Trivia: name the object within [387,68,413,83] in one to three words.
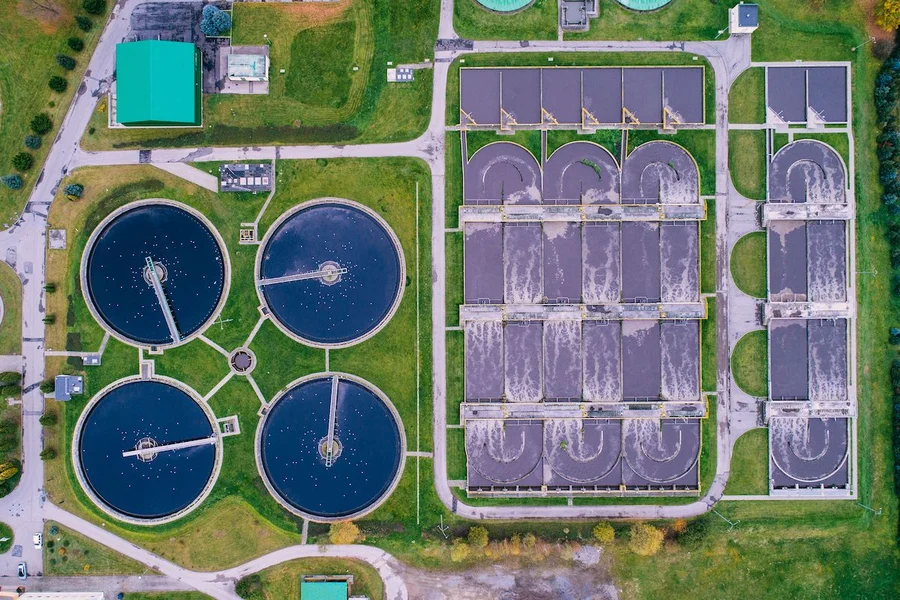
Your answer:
building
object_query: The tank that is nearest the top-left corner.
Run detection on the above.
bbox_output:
[81,199,232,349]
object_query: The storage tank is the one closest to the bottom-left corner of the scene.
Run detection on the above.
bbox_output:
[72,375,223,524]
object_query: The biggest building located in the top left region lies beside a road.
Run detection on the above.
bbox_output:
[116,40,200,126]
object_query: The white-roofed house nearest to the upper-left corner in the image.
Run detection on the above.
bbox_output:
[228,54,270,81]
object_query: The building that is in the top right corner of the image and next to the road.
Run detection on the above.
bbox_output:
[728,3,758,35]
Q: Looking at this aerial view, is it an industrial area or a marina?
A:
industrial area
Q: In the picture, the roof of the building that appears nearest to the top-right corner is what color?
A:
blue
